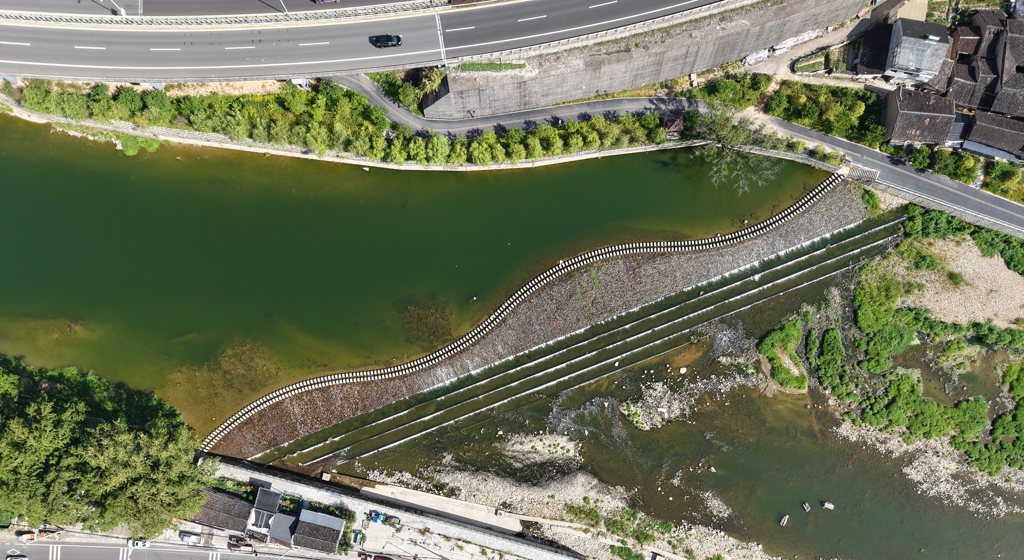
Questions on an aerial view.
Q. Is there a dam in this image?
Yes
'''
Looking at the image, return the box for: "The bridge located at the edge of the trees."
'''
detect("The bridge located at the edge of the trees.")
[0,0,445,90]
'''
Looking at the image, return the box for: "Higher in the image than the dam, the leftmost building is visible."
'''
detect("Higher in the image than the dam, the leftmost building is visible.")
[666,112,688,138]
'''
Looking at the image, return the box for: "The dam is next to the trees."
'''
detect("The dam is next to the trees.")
[204,173,911,477]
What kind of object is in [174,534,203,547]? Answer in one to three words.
vehicle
